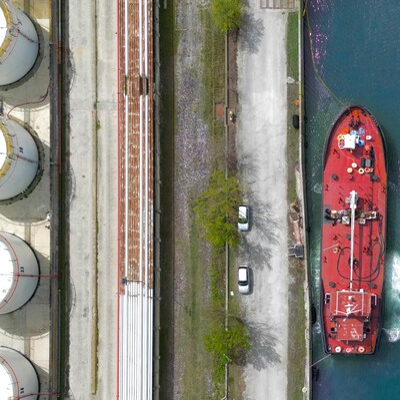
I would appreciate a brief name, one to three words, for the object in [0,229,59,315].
storage tank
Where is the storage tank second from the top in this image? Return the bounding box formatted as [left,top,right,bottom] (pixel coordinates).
[0,112,59,205]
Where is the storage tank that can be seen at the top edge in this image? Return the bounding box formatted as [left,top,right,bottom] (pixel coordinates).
[0,0,59,90]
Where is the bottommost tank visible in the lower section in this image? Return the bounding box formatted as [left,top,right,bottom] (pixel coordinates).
[0,345,59,400]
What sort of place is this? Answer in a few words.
industrial area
